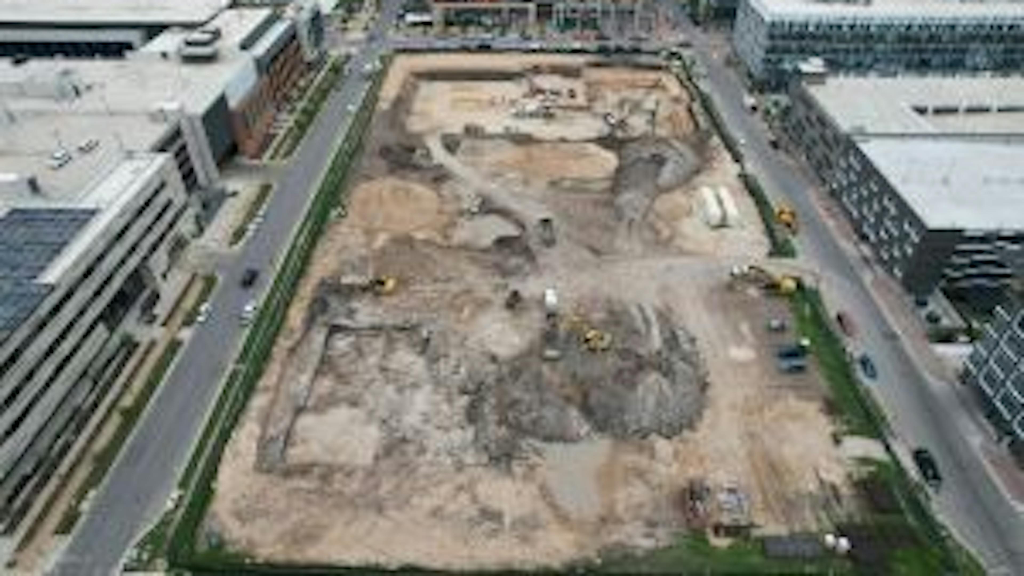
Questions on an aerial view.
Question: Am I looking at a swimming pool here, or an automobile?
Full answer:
The one in the frame is an automobile.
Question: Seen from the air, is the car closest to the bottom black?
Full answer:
Yes, the car closest to the bottom is indeed black.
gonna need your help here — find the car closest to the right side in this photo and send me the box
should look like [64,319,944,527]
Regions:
[917,447,947,481]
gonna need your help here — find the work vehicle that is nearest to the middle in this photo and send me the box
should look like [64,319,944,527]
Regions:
[501,289,523,313]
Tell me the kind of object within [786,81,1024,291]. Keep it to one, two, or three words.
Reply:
building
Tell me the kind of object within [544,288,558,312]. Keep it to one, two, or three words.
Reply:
vehicle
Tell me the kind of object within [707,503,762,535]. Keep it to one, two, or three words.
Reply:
shed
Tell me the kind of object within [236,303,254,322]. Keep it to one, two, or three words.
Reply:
car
